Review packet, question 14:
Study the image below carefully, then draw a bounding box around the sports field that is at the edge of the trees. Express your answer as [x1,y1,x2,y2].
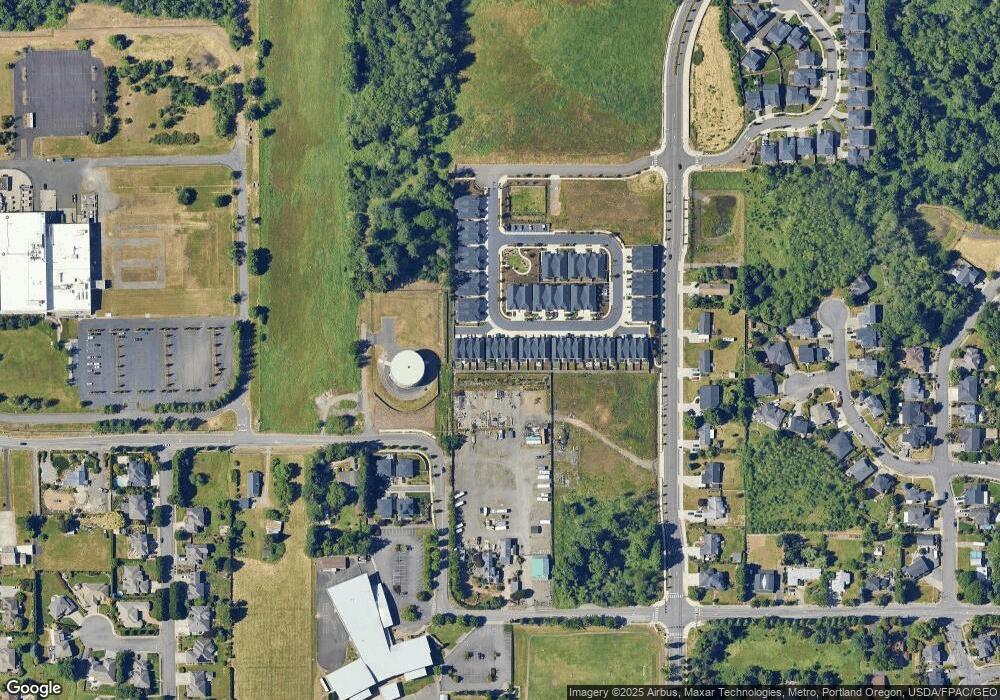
[516,625,662,700]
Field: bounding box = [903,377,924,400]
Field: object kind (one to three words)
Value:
house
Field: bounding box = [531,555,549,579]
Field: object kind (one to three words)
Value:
building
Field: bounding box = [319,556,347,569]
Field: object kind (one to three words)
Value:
shed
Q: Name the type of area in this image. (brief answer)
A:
residential area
